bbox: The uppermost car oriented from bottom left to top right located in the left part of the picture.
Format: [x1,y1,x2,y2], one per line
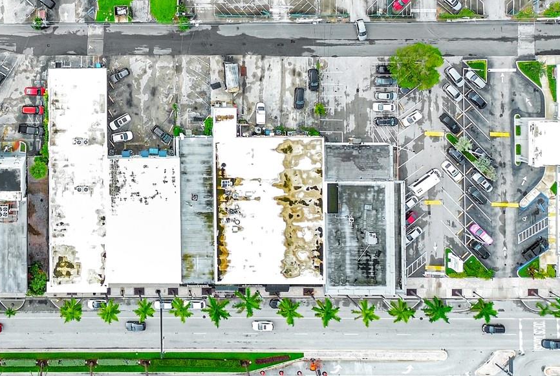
[108,67,131,85]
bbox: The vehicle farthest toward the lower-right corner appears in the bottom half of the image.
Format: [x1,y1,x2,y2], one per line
[541,339,560,351]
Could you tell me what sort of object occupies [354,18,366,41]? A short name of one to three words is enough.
vehicle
